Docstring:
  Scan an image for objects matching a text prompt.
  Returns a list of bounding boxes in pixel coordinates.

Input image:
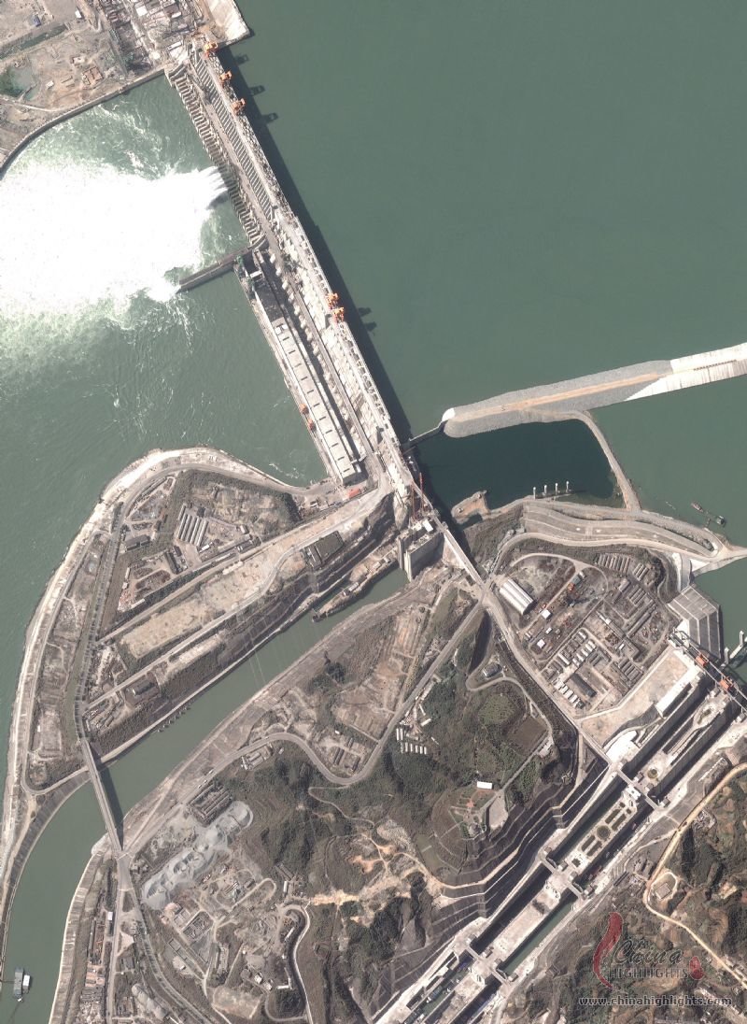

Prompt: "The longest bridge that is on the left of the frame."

[78,735,126,855]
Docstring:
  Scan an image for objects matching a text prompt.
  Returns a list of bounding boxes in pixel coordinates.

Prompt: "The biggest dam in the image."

[180,40,487,601]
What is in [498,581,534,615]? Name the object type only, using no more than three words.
building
